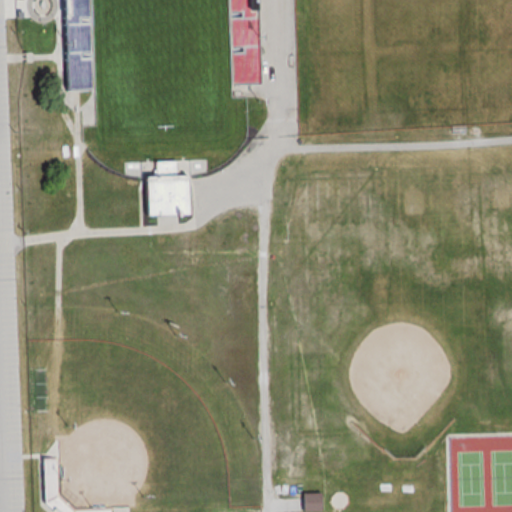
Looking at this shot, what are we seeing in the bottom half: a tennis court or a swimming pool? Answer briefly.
tennis court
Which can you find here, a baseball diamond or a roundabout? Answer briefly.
baseball diamond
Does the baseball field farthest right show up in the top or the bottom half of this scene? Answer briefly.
bottom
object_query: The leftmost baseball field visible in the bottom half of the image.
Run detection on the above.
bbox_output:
[28,339,263,508]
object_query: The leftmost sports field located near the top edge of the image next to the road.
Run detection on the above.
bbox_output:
[86,0,246,172]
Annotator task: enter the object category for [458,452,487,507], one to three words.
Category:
tennis court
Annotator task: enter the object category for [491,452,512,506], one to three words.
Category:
tennis court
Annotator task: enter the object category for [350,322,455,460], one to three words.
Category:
baseball field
